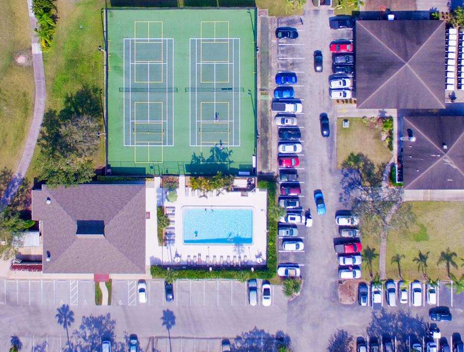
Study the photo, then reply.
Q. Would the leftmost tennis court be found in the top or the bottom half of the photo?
top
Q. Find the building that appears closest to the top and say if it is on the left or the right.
right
